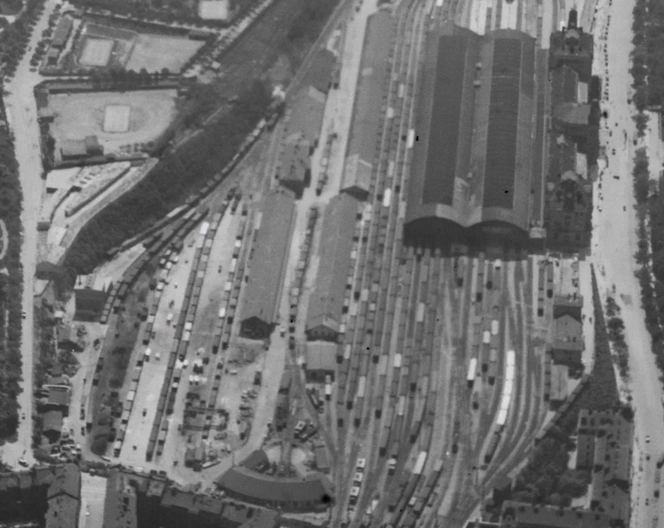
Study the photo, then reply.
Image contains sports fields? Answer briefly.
Yes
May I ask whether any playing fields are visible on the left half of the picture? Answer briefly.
Yes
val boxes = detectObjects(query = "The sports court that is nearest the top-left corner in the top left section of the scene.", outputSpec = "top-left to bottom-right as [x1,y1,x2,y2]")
[79,40,113,67]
